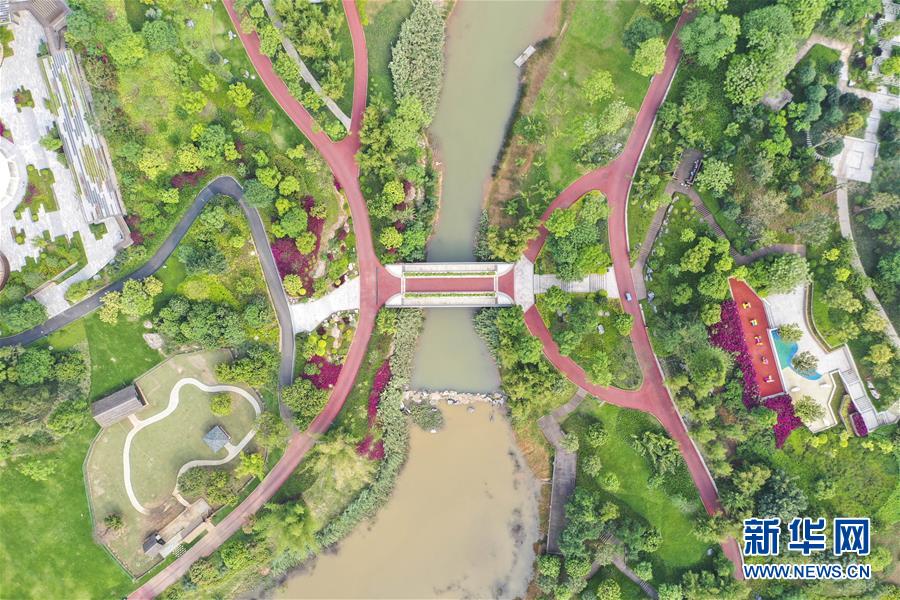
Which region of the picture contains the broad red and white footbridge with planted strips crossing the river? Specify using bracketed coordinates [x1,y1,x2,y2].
[377,264,516,307]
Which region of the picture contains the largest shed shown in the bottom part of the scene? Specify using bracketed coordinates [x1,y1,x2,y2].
[92,383,151,427]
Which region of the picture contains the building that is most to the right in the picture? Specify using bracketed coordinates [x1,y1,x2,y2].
[203,424,233,452]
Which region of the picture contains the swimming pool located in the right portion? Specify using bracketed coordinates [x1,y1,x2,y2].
[773,329,822,380]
